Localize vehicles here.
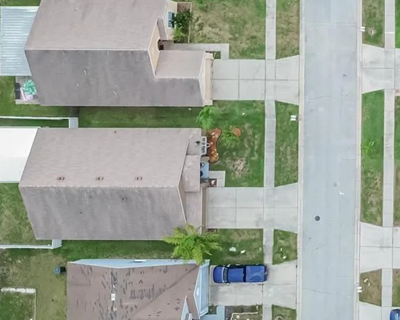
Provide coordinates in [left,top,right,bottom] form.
[389,309,400,320]
[215,265,268,285]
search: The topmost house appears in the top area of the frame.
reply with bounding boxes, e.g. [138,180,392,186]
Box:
[20,0,214,106]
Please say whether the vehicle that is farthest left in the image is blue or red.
blue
